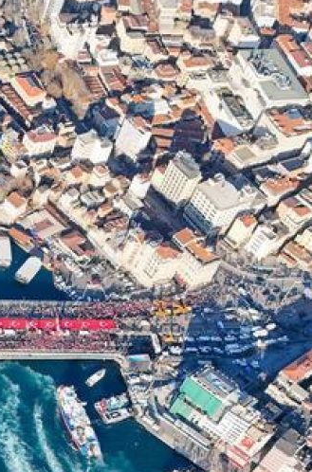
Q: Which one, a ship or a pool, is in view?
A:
ship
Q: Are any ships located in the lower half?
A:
Yes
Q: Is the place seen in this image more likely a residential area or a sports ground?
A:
residential area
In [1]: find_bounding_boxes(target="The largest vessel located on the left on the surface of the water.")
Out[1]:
[52,380,108,461]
